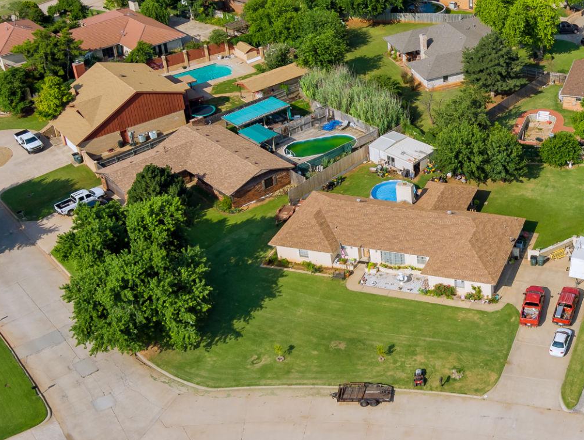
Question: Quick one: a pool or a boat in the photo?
pool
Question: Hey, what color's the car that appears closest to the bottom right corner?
white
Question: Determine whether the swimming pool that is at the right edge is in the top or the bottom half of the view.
top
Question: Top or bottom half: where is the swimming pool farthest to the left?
top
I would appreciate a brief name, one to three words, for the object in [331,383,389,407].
trailer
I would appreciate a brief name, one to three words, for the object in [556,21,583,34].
vehicle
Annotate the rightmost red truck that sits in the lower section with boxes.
[554,290,579,326]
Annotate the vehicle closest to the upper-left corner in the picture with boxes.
[15,129,42,152]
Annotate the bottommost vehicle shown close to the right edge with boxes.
[550,326,575,361]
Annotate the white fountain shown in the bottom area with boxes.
[393,269,413,286]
